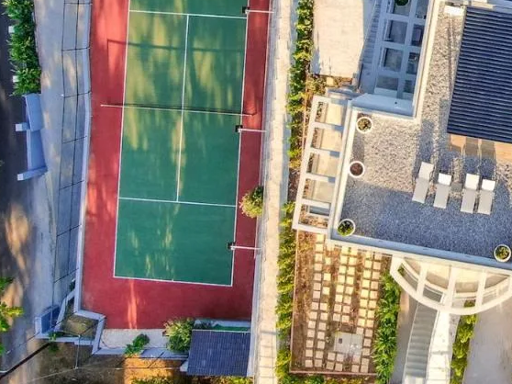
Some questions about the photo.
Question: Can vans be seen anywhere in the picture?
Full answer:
No, this view has no van in it.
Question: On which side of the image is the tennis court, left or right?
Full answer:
The tennis court sits on the left side.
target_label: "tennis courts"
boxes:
[84,0,272,331]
